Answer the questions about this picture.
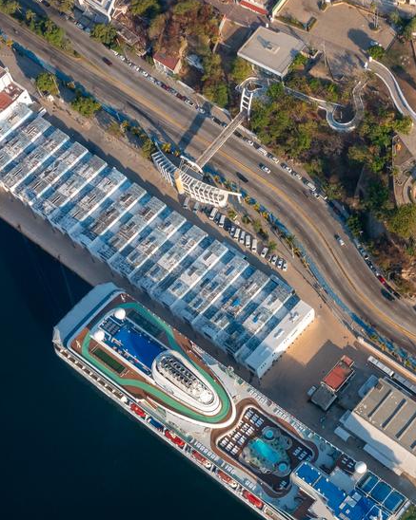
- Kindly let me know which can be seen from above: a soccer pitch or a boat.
boat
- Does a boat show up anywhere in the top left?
No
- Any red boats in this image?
Yes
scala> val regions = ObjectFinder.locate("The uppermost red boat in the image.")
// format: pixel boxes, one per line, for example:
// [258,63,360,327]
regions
[126,400,145,416]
